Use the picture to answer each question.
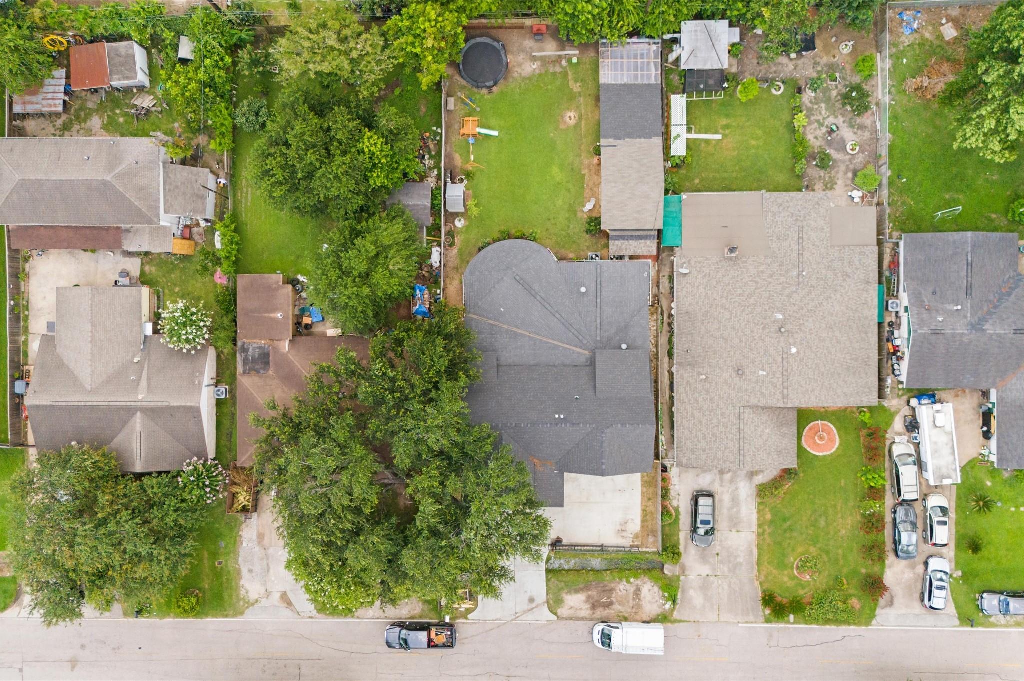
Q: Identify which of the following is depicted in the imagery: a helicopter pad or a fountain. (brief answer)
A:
fountain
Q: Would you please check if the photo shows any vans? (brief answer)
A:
Yes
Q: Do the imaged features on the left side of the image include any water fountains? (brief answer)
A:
No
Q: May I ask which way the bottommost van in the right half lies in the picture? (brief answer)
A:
horizontally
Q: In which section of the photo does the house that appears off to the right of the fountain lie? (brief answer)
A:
right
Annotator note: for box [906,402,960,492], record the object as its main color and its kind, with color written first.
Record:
white trailer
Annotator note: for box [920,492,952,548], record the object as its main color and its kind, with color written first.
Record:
white car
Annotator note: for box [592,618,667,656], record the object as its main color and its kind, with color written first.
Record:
white van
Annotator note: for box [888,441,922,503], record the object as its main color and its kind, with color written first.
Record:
white car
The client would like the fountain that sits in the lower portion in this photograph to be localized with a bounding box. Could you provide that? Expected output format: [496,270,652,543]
[803,420,840,457]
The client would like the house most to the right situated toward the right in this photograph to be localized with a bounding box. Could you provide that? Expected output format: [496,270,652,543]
[896,232,1024,469]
